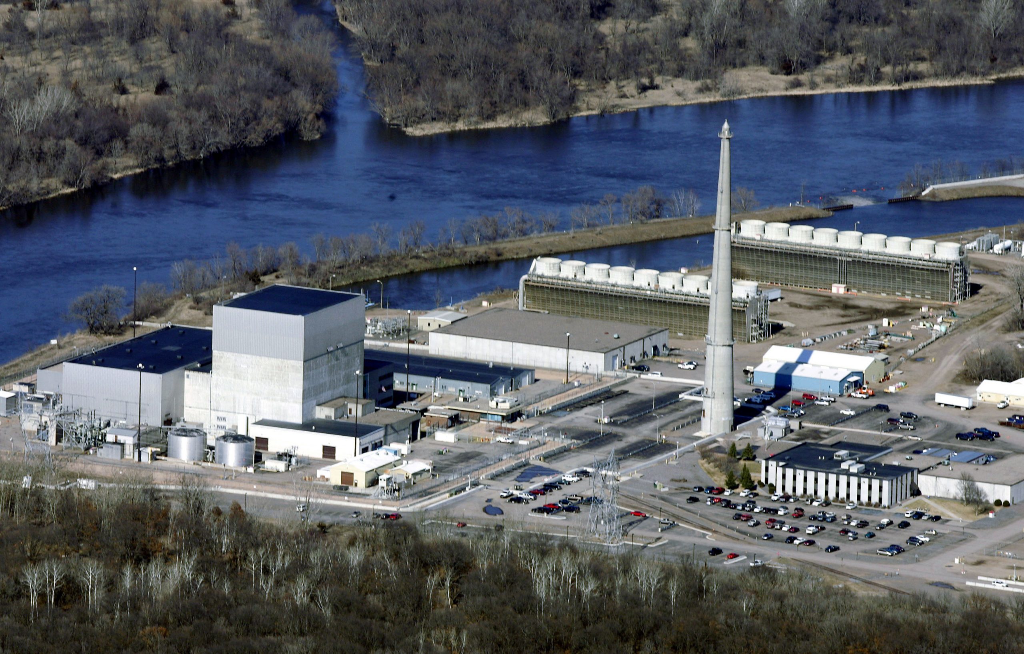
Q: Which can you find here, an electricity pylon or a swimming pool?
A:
electricity pylon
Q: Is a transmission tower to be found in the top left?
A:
No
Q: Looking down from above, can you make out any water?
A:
Yes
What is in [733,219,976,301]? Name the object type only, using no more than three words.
cooling tower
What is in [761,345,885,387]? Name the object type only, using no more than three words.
shed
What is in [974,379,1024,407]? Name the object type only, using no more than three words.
building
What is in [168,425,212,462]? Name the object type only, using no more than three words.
storage tank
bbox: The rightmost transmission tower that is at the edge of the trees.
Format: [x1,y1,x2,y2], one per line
[581,442,623,542]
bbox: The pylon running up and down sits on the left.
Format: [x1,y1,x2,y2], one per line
[23,377,66,467]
